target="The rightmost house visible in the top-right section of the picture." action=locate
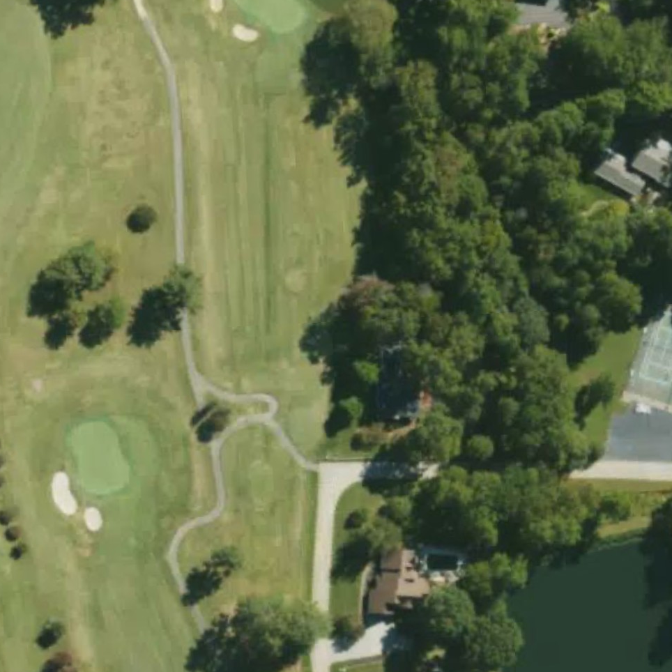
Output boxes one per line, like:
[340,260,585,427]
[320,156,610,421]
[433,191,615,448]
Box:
[630,136,672,191]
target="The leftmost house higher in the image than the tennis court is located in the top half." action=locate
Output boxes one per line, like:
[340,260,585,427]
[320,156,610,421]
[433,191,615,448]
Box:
[595,155,646,199]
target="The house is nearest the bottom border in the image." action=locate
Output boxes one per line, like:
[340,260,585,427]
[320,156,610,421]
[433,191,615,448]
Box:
[369,549,432,614]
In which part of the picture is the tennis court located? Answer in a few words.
right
